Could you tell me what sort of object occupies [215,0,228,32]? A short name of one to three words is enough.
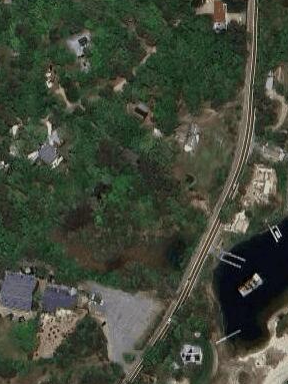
house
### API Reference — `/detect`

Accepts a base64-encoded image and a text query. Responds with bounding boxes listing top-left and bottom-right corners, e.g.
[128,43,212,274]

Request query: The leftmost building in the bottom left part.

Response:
[3,273,39,308]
